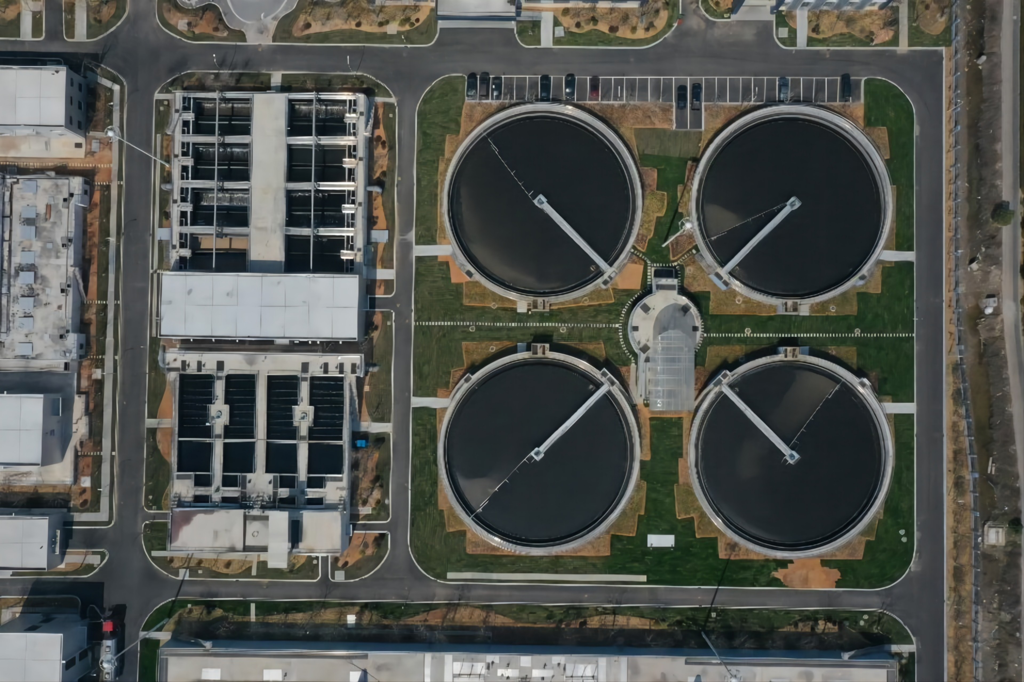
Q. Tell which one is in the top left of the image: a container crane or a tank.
tank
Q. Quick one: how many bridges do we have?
4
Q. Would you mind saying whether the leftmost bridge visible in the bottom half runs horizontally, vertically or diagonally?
diagonally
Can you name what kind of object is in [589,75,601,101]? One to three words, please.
vehicle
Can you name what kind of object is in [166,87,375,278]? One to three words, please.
storage tank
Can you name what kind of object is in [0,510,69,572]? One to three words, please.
building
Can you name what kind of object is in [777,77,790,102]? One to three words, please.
vehicle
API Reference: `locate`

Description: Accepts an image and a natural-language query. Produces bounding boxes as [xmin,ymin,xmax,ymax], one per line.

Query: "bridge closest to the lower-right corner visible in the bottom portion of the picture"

[723,376,798,460]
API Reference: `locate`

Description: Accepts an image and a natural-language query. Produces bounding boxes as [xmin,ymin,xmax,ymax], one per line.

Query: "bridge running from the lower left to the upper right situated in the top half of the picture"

[718,204,799,280]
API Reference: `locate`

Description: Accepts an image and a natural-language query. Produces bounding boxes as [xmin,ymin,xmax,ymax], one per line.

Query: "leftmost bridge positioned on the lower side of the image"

[536,376,611,457]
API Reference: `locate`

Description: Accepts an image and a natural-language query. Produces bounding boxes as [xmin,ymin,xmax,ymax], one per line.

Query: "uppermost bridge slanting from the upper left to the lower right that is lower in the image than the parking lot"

[538,198,614,279]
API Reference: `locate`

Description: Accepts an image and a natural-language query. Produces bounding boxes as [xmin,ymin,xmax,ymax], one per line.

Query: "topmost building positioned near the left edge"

[0,66,86,136]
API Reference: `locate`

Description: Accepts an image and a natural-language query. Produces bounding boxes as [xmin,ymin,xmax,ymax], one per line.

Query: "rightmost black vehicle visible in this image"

[838,74,853,100]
